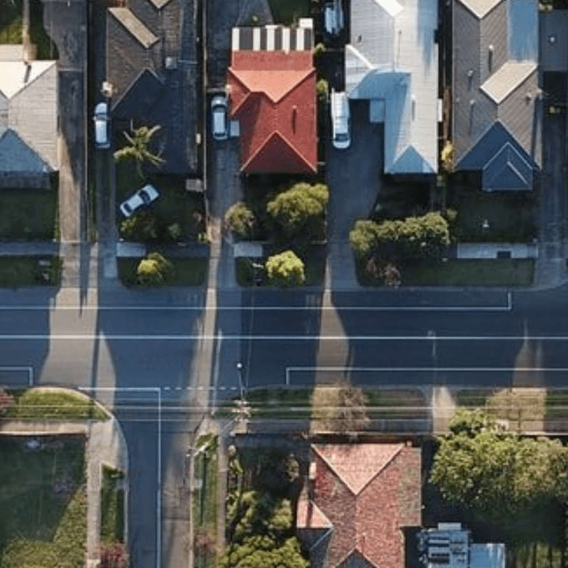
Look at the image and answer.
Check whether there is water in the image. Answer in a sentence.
No, water can't be seen anywhere here.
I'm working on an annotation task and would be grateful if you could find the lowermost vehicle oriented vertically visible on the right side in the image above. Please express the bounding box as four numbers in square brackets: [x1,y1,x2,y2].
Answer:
[332,91,351,147]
